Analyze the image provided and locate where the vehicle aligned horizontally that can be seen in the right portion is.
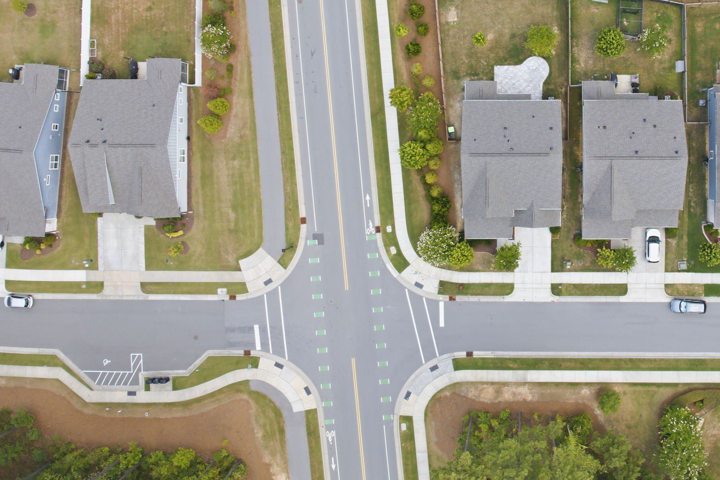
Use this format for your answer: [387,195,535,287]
[671,299,708,316]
